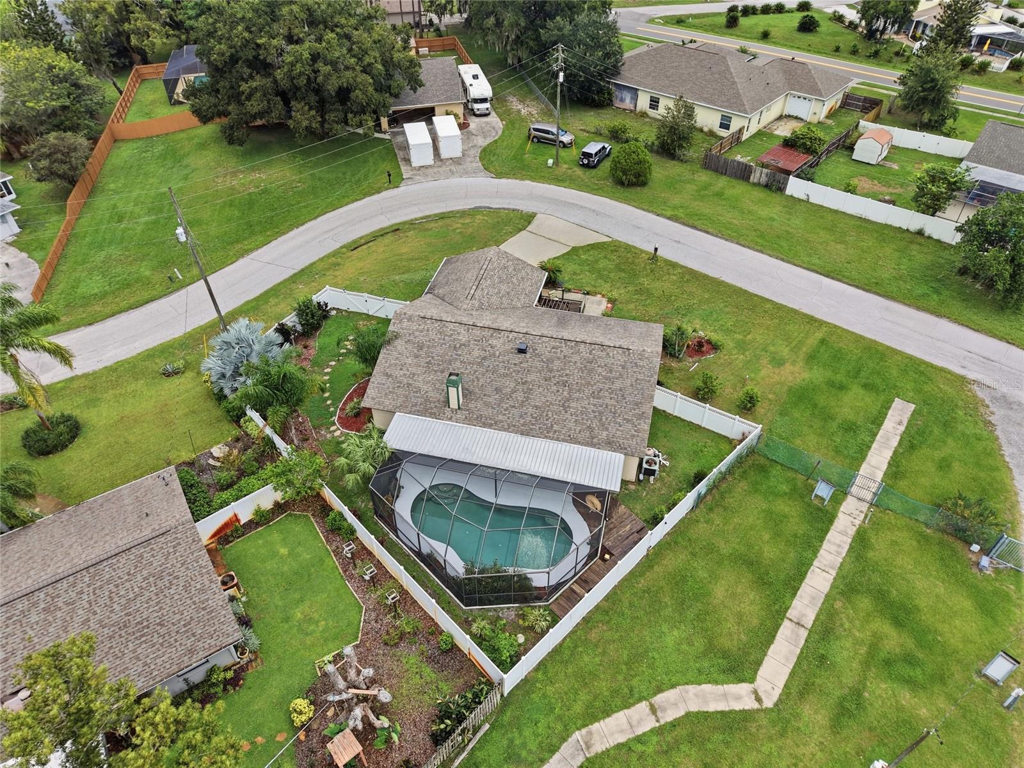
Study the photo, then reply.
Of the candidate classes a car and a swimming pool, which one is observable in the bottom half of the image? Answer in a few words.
swimming pool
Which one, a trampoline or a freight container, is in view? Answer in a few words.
freight container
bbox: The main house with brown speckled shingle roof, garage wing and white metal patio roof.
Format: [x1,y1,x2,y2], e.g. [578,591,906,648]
[360,246,664,519]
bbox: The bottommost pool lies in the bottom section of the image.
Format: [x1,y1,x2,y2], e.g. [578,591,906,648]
[410,481,573,569]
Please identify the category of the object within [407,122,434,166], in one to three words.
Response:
shipping container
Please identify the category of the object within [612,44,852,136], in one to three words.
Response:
house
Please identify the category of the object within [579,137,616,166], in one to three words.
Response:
car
